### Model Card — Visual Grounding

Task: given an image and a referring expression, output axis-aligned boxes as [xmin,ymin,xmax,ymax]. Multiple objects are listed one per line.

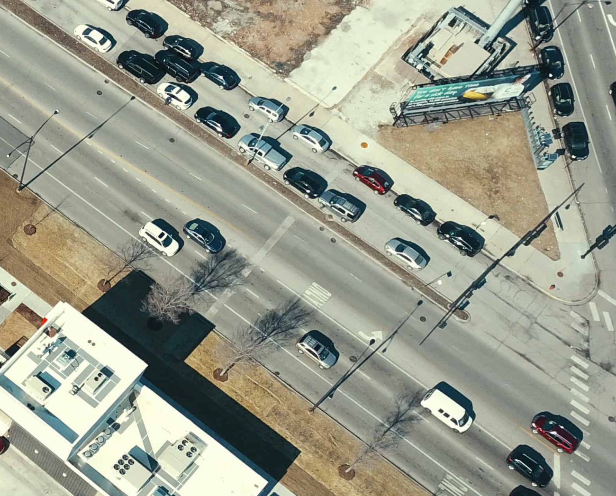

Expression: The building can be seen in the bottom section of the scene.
[0,298,263,496]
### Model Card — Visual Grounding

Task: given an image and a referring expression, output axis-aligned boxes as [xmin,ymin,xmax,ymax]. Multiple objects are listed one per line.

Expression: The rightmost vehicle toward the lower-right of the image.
[531,420,580,455]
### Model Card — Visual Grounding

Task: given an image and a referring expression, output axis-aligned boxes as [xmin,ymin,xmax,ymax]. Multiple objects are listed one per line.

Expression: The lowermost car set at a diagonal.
[506,450,551,487]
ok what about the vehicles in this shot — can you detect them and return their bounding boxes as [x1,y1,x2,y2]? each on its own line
[295,333,336,367]
[137,223,178,256]
[563,123,589,161]
[293,129,333,155]
[607,82,616,117]
[436,225,482,257]
[90,0,124,11]
[126,14,162,40]
[393,198,432,225]
[531,420,580,455]
[248,99,285,124]
[182,223,223,253]
[319,189,358,219]
[423,389,471,430]
[158,56,198,84]
[551,85,575,117]
[162,38,195,62]
[540,47,563,79]
[194,112,236,140]
[73,28,113,53]
[282,169,325,198]
[200,66,237,91]
[118,57,160,84]
[352,169,389,194]
[506,450,551,487]
[384,241,428,269]
[530,9,552,41]
[156,86,193,111]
